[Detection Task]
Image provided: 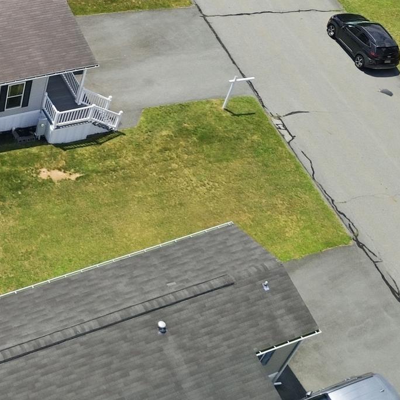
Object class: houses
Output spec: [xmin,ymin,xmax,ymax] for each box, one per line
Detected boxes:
[0,0,124,144]
[0,220,324,400]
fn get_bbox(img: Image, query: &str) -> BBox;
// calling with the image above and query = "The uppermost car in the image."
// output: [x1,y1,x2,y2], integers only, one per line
[327,13,400,73]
